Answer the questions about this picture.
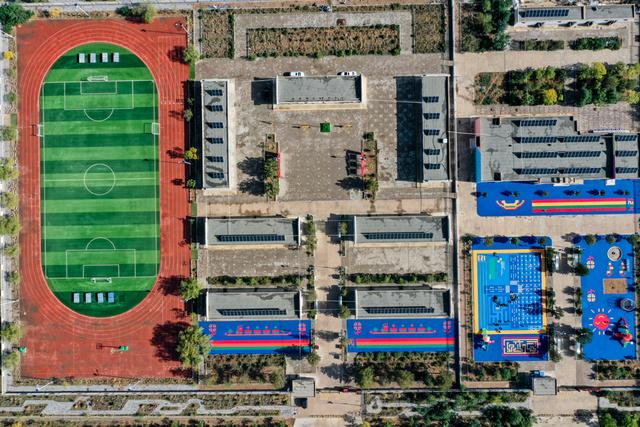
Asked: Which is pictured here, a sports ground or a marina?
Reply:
sports ground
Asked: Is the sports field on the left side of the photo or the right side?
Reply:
left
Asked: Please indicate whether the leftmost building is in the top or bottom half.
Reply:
top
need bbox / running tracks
[16,17,192,379]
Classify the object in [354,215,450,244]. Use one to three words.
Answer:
building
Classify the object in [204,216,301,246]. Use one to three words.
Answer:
building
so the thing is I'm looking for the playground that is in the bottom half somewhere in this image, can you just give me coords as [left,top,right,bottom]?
[581,234,637,361]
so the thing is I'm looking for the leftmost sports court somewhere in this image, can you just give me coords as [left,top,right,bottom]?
[472,236,552,361]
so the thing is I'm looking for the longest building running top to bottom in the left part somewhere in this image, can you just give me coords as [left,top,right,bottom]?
[201,79,232,189]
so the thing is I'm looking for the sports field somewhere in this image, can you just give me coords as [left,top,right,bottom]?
[39,41,160,318]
